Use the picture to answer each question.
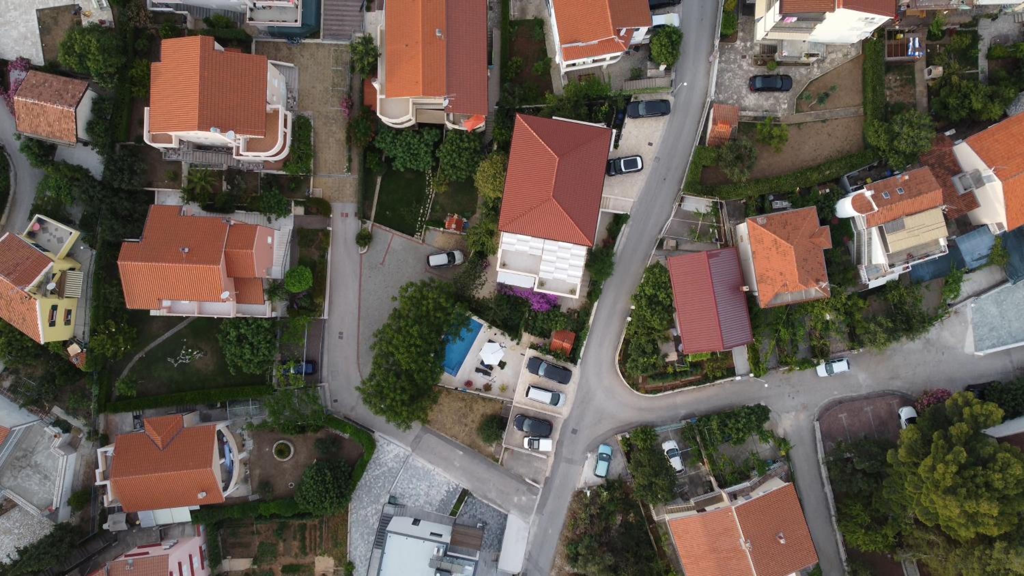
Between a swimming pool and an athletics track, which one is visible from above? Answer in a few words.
swimming pool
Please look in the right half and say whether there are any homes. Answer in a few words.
Yes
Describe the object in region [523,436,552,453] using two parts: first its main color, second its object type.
white vehicle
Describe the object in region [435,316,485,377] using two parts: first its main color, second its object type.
blue swimming pool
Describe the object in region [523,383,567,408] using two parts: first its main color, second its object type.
white car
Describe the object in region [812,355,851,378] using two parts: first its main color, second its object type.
white car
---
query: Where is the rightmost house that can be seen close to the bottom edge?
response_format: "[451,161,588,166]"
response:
[649,454,818,576]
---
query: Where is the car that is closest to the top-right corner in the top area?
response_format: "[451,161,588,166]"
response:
[746,71,793,94]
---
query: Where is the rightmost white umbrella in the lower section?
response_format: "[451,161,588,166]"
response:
[478,340,512,365]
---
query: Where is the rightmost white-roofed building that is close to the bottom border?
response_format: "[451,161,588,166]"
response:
[498,509,529,575]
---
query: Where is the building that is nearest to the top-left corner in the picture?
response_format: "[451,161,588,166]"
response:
[13,70,107,148]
